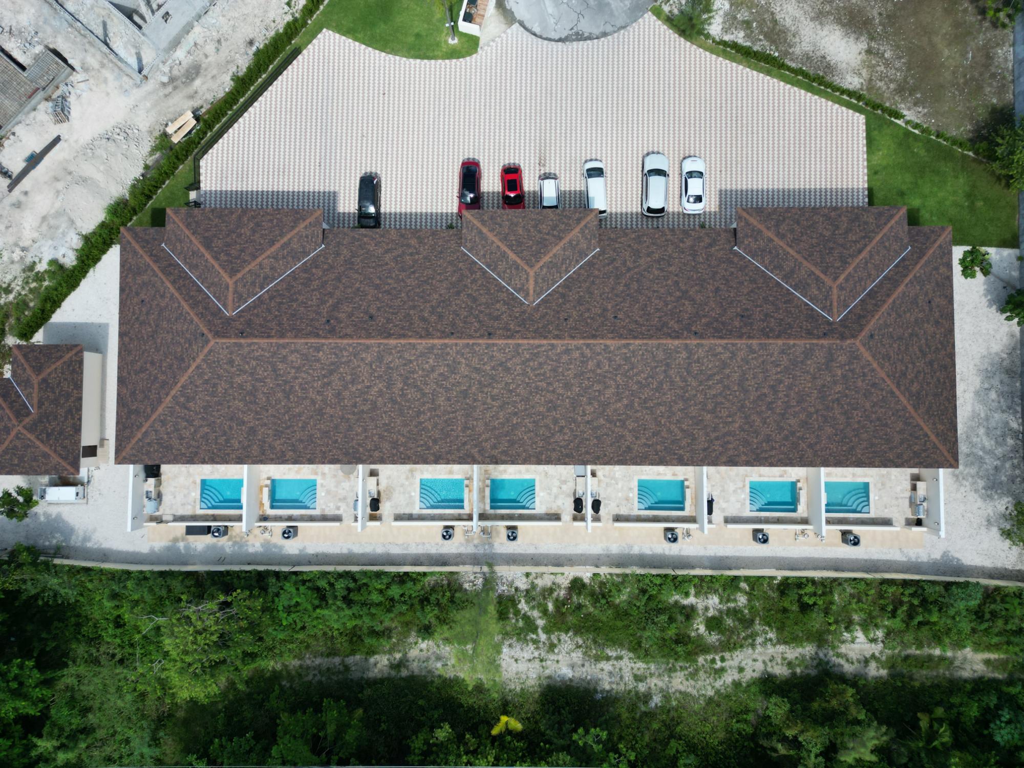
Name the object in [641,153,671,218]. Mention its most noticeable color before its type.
white car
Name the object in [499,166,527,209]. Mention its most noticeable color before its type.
red car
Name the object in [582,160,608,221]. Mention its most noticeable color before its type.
white car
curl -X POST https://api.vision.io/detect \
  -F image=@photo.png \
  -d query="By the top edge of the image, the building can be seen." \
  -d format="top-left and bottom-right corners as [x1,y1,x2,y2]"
[458,0,500,40]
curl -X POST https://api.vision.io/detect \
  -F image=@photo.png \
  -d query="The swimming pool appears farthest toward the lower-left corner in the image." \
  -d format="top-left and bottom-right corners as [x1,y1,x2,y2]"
[196,474,244,512]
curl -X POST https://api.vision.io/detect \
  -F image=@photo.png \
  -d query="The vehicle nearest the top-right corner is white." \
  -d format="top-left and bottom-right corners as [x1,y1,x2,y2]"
[679,157,708,217]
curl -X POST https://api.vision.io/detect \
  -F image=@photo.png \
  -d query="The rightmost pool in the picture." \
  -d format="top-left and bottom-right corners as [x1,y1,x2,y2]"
[822,477,874,516]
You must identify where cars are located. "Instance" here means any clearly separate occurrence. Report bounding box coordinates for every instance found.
[455,160,484,224]
[499,166,527,209]
[537,174,563,209]
[641,153,671,218]
[679,157,708,217]
[582,160,608,221]
[355,173,383,226]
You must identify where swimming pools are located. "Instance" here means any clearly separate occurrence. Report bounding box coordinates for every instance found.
[262,474,320,513]
[483,475,539,514]
[822,477,874,516]
[416,475,471,514]
[746,476,806,516]
[634,476,692,515]
[196,474,244,512]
